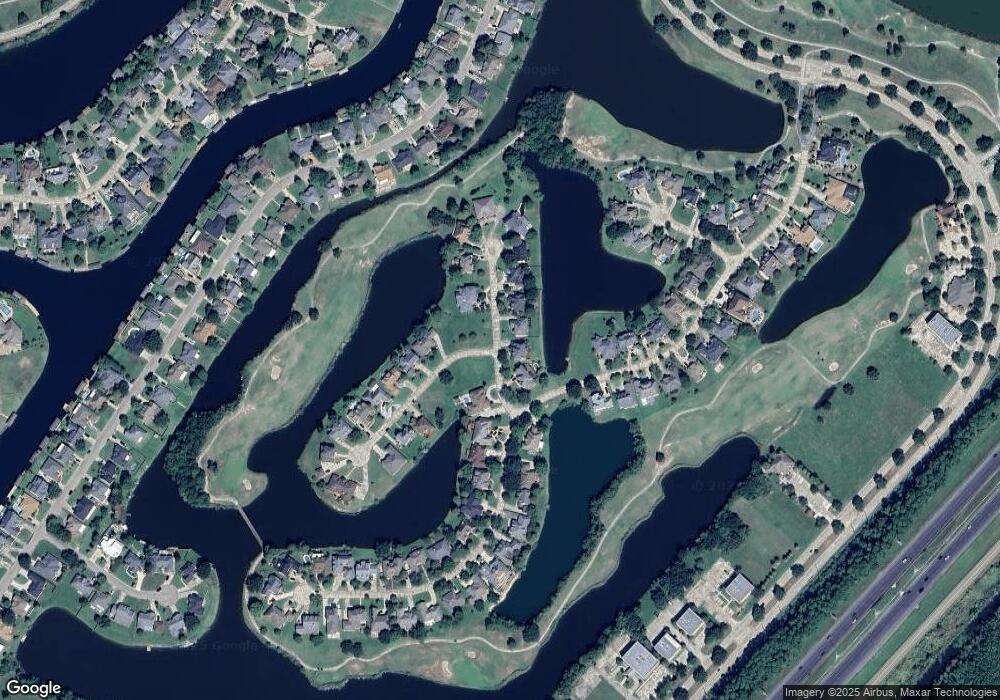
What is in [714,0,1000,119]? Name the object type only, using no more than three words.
golf course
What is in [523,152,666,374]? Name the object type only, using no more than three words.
pond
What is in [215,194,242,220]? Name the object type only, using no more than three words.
house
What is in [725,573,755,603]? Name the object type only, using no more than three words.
building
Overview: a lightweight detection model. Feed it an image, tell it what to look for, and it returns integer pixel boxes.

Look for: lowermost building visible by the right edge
[924,312,964,347]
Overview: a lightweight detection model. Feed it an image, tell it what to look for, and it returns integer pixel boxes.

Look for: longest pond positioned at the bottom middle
[497,404,635,623]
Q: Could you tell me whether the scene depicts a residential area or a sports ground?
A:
residential area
